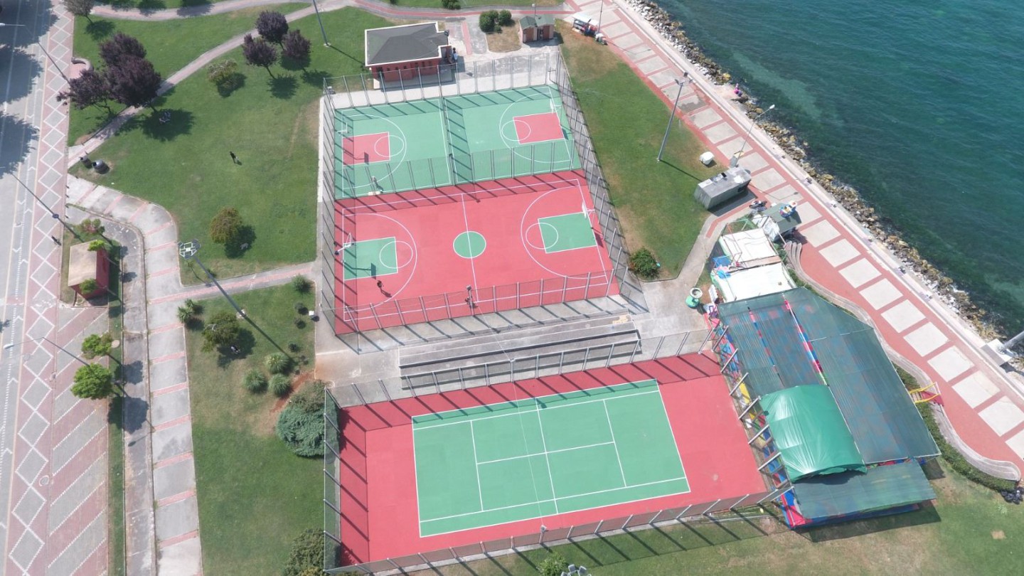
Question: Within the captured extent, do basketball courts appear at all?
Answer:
Yes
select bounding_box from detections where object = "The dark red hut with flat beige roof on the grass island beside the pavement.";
[68,239,110,297]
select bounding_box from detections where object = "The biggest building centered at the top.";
[364,20,452,89]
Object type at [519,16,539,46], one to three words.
building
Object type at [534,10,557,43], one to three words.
building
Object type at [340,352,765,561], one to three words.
tennis court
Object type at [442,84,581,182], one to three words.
basketball court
